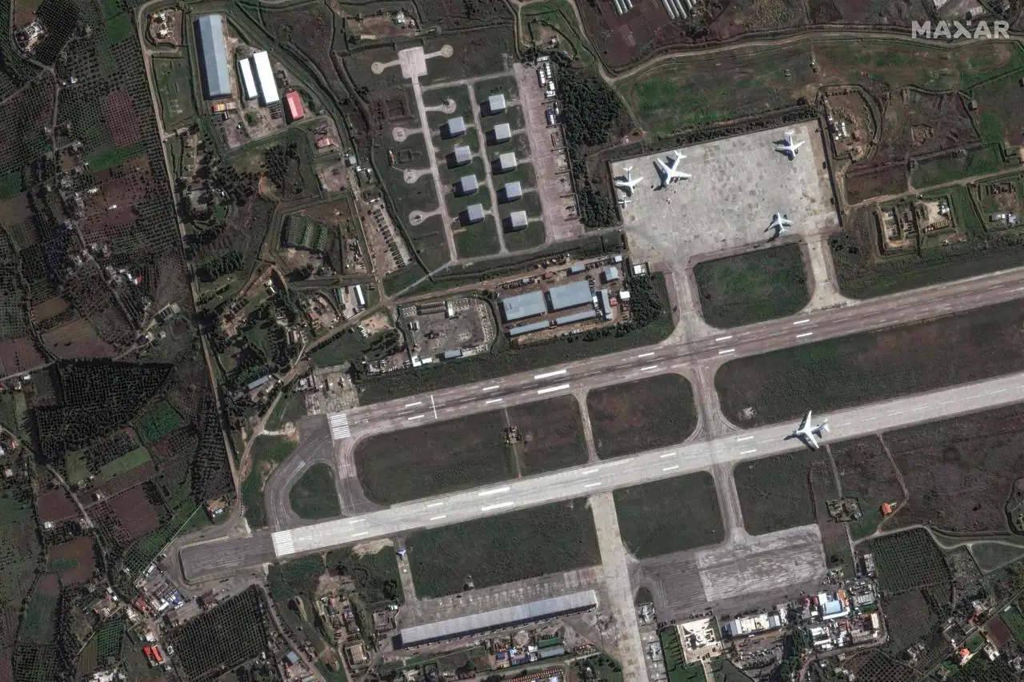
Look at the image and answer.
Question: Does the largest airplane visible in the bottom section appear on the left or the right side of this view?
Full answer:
You can find the largest airplane visible in the bottom section on the right side of the picture.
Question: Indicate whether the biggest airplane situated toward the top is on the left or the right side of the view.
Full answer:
You can find the biggest airplane situated toward the top on the right side of the picture.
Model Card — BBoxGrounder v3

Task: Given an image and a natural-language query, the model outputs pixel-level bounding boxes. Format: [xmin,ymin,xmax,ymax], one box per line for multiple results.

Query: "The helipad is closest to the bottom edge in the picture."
[409,207,442,225]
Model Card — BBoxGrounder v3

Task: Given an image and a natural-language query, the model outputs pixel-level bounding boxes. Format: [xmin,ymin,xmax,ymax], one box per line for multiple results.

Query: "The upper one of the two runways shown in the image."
[330,267,1024,441]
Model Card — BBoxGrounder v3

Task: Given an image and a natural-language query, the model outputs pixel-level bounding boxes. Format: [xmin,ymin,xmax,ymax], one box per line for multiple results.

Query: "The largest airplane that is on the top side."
[657,150,693,186]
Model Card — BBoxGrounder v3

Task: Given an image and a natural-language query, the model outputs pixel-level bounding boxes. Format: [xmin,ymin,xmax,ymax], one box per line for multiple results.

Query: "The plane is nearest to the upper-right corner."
[778,131,806,156]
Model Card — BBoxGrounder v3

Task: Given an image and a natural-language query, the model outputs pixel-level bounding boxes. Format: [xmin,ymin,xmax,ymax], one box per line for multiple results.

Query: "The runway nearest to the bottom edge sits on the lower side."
[272,372,1024,557]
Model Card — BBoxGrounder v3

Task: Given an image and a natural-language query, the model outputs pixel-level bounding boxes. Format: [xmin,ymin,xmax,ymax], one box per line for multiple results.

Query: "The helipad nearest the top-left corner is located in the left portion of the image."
[370,60,401,74]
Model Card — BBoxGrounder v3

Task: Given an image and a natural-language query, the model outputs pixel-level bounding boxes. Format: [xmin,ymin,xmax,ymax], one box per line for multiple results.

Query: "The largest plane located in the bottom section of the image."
[797,410,832,444]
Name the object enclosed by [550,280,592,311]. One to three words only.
hangar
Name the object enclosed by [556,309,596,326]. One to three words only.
shed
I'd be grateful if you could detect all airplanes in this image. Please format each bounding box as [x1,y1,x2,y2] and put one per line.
[769,213,794,235]
[642,607,651,622]
[797,410,832,444]
[619,196,632,208]
[650,644,659,657]
[657,150,693,186]
[617,166,643,194]
[399,545,408,558]
[778,131,806,156]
